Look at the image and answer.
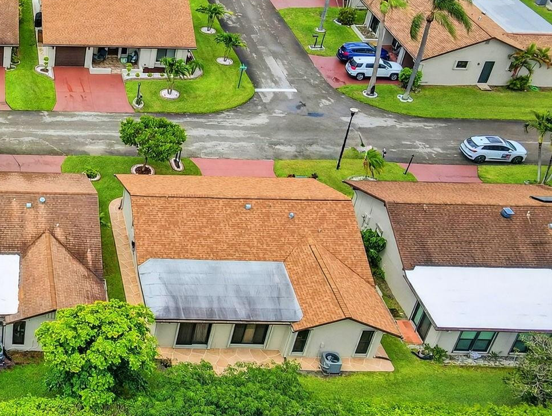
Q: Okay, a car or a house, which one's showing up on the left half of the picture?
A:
house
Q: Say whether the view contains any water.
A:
No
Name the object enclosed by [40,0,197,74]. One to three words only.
house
